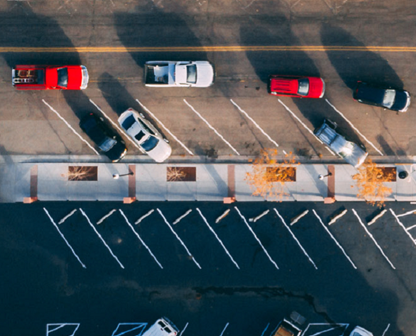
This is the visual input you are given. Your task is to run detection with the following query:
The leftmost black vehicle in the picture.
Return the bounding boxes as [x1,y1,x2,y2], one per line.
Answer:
[78,112,128,163]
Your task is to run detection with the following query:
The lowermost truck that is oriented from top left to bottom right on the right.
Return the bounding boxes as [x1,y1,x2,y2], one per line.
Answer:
[310,116,370,169]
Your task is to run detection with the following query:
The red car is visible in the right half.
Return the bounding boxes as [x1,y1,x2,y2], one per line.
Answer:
[266,73,327,99]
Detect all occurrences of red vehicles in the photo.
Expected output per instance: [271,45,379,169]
[266,73,327,99]
[10,62,91,93]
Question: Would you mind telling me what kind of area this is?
parking lot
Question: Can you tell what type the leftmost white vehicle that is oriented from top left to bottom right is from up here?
car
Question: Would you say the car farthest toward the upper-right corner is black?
Yes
